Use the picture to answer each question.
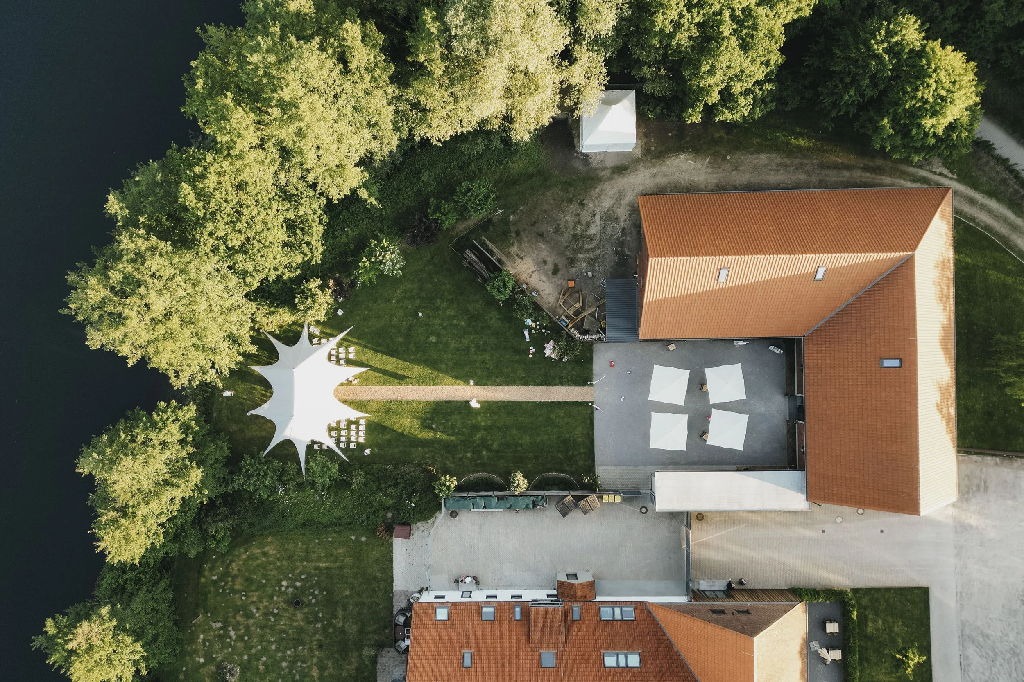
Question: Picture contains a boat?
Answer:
No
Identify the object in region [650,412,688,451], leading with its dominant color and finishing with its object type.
white umbrella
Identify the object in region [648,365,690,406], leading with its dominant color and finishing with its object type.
white umbrella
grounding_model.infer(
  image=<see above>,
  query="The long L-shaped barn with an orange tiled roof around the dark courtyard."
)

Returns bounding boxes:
[635,185,960,515]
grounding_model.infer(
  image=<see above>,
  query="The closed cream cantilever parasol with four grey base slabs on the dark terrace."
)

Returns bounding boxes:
[809,641,830,661]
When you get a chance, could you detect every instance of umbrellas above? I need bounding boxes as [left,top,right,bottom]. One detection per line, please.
[648,365,690,406]
[706,408,749,451]
[809,641,830,661]
[650,412,688,451]
[704,363,746,404]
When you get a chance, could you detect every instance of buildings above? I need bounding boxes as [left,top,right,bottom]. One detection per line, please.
[404,579,809,682]
[635,185,960,515]
[394,522,412,538]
